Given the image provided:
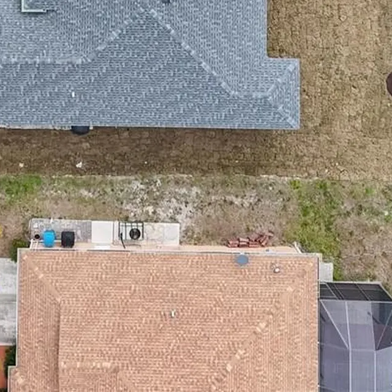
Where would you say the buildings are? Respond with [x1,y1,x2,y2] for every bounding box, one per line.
[0,0,301,130]
[6,238,323,392]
